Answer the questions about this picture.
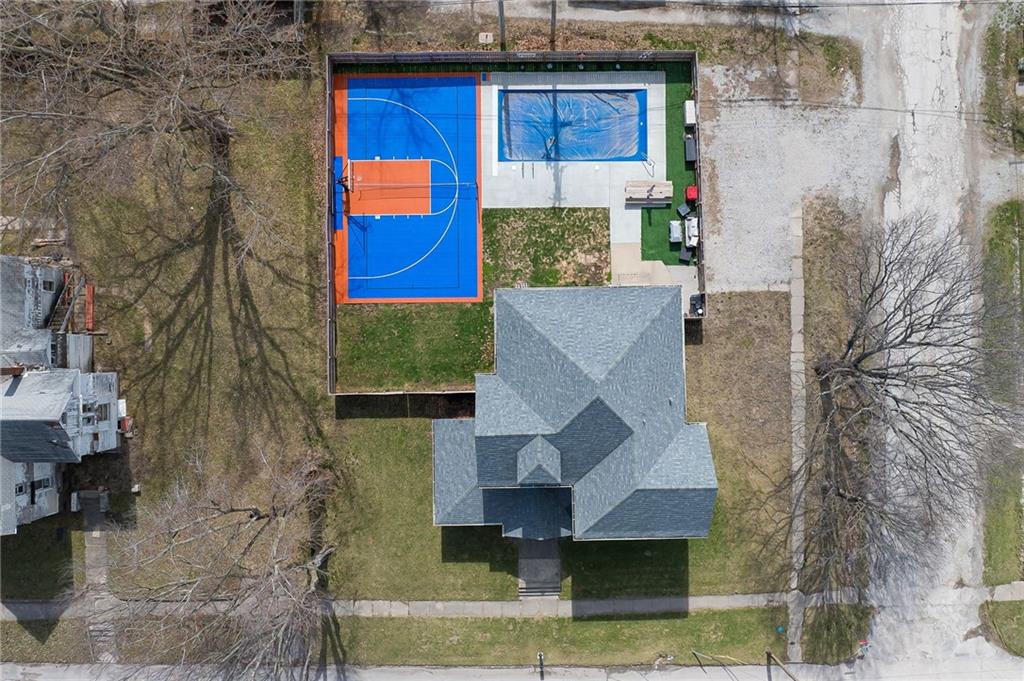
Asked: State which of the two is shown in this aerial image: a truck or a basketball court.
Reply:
basketball court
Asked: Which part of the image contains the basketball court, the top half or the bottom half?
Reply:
top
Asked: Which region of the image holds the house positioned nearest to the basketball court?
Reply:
center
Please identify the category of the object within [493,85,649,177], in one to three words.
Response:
swimming pool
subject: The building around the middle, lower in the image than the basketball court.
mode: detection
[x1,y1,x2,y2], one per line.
[432,285,718,541]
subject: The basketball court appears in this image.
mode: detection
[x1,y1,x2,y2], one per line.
[335,72,483,303]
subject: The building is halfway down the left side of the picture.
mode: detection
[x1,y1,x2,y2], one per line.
[0,259,120,537]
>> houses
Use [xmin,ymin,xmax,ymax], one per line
[0,259,120,537]
[432,285,718,541]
